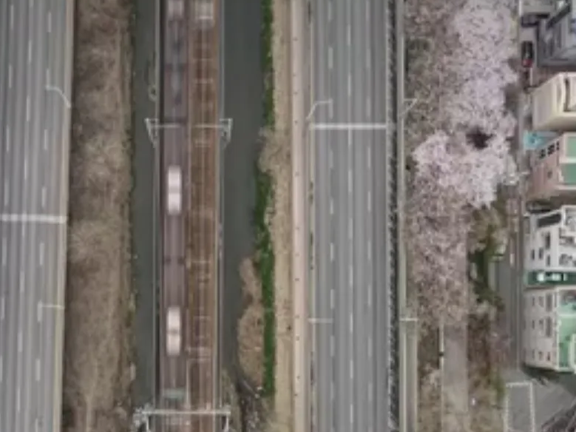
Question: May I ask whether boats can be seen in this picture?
No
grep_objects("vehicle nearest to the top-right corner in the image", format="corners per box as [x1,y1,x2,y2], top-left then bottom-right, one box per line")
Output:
[519,13,541,26]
